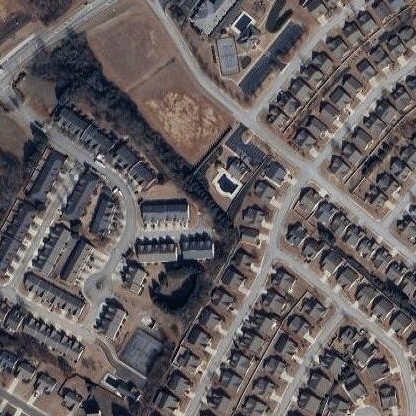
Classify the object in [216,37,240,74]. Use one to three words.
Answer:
tennis court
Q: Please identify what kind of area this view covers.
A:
residential area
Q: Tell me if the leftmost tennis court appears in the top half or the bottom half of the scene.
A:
bottom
